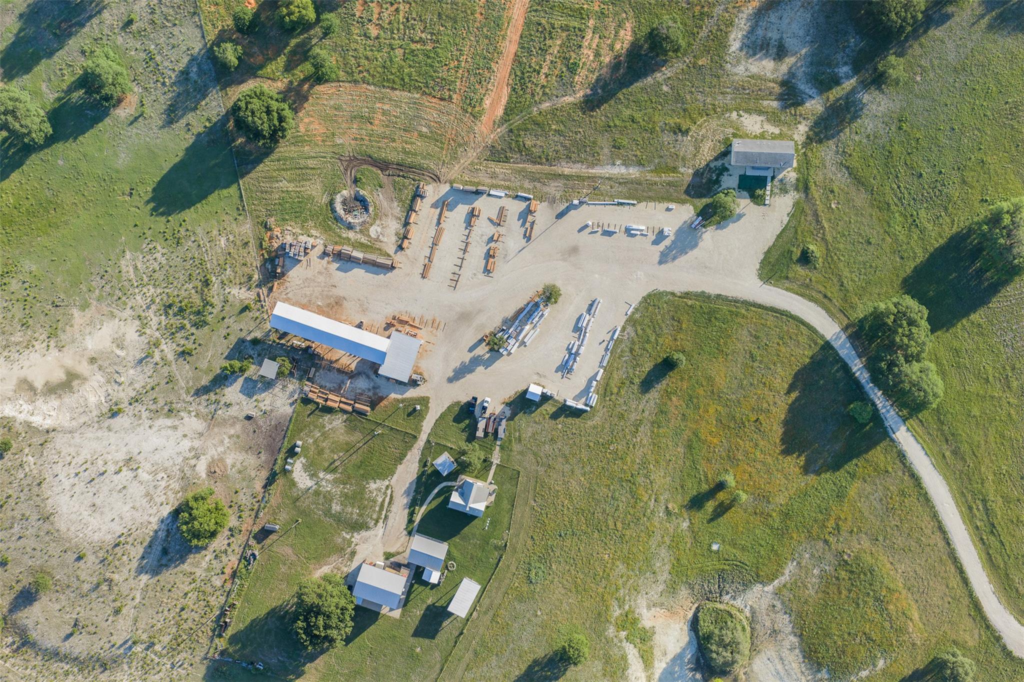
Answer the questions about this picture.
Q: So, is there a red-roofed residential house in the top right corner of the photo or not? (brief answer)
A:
No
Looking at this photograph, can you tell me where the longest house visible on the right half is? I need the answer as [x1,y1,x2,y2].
[729,139,797,176]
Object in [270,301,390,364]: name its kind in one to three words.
barn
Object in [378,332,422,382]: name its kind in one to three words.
building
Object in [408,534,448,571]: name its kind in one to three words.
building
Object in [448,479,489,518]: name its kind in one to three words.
house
